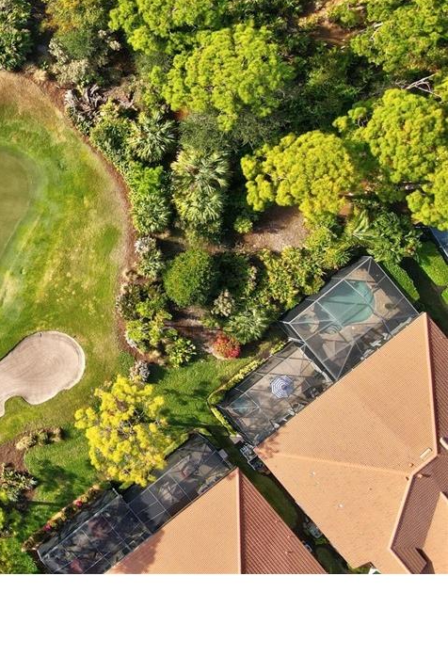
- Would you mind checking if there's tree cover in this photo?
Yes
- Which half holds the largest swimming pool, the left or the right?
right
